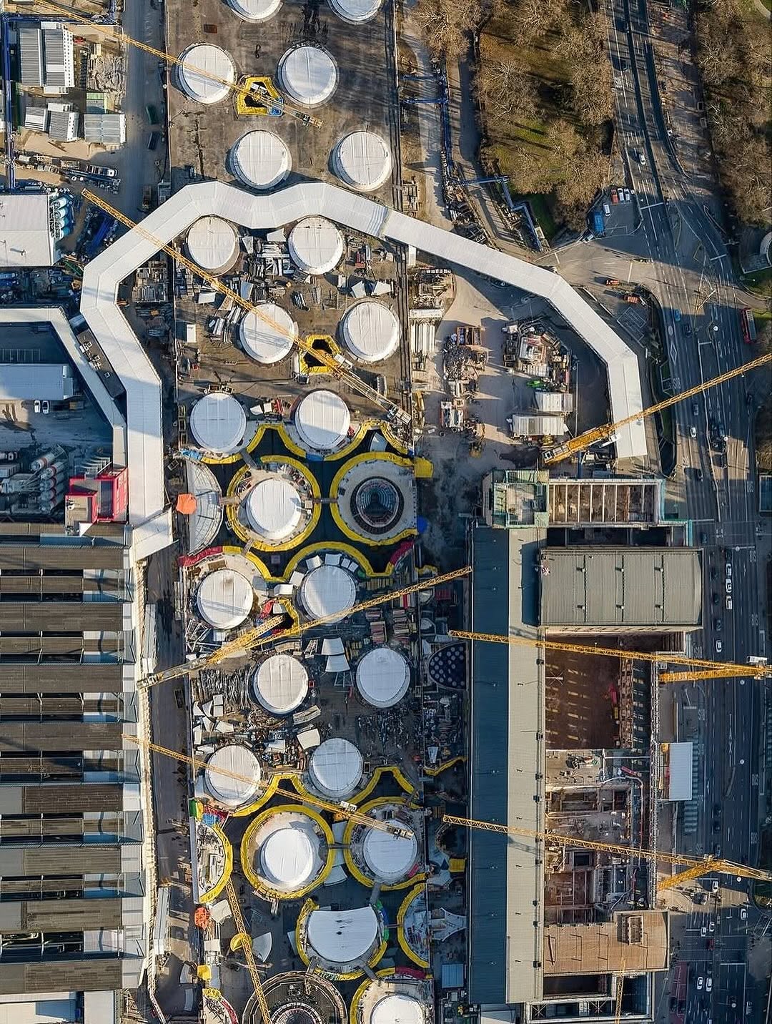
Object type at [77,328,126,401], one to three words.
building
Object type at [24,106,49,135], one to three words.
building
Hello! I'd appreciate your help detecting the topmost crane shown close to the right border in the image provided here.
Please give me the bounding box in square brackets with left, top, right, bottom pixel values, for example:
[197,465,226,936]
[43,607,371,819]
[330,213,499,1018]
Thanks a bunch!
[547,352,772,475]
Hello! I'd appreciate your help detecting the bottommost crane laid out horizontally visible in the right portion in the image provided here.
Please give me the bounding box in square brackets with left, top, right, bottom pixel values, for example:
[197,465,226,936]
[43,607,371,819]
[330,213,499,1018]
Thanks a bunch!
[443,815,772,881]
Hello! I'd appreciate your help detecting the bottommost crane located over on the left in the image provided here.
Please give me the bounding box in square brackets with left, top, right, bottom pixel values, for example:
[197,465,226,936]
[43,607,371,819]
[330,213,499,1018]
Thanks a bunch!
[224,883,292,1024]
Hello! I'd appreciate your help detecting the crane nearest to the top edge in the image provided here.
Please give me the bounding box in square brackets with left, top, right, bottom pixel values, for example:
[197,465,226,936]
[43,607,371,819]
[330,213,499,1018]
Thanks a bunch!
[45,0,321,127]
